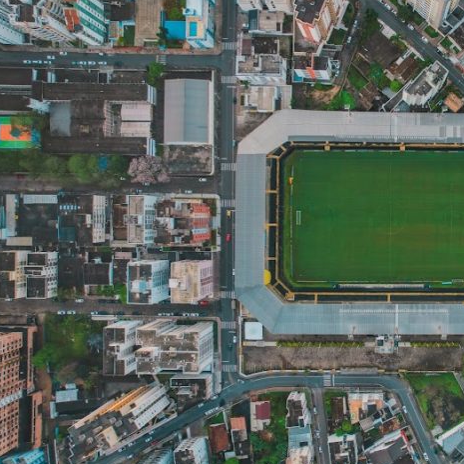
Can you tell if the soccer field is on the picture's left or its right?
right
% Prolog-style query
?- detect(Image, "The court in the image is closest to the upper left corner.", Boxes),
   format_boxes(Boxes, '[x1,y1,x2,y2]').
[0,116,40,148]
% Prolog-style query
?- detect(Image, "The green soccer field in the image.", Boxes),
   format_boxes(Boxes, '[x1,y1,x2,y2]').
[284,151,464,289]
